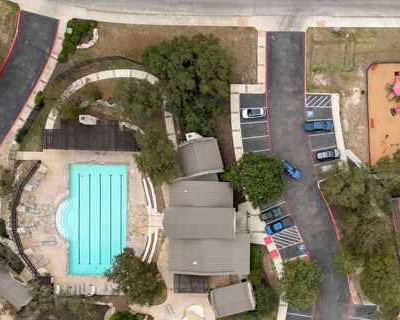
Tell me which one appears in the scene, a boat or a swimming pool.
swimming pool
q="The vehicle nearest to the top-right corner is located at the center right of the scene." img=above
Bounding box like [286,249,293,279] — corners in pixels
[304,120,333,132]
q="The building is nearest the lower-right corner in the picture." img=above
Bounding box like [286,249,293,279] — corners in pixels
[211,281,253,318]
